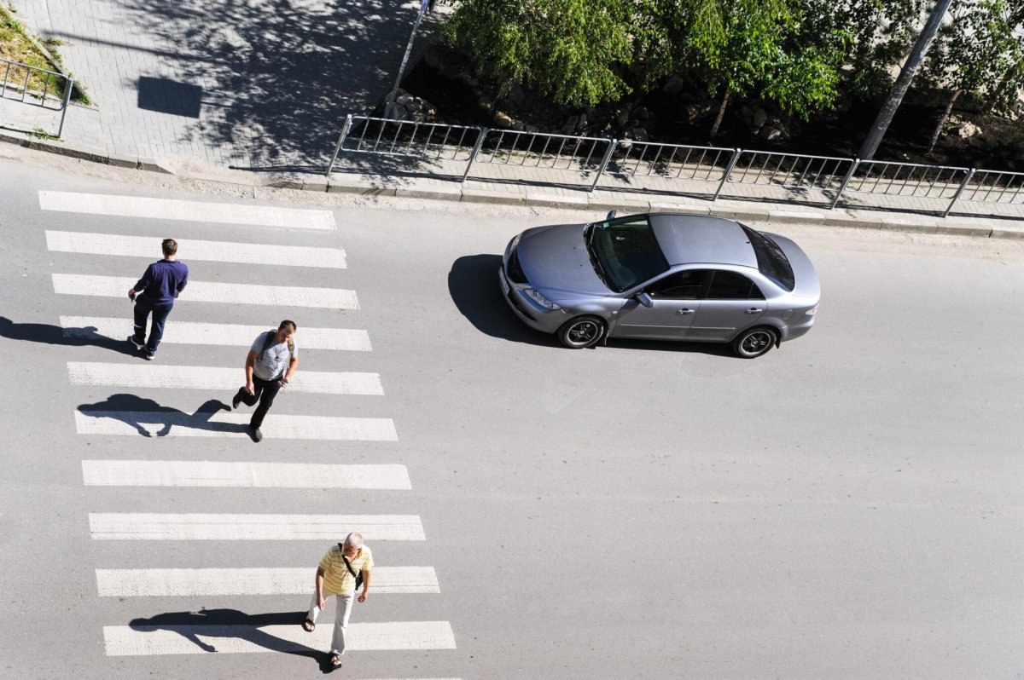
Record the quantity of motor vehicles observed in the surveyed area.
1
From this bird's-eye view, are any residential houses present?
No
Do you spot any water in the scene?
No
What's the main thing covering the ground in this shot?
paved ground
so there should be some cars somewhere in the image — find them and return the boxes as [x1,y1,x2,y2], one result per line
[493,205,822,359]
